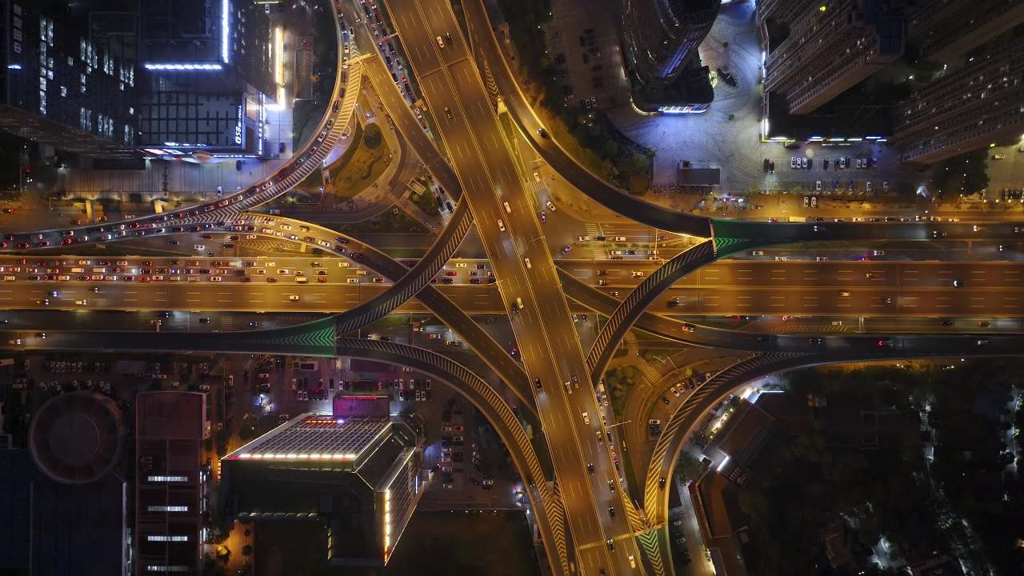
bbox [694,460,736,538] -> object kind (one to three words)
house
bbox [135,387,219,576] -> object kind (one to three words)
building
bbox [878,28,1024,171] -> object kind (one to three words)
building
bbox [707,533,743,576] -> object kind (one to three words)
house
